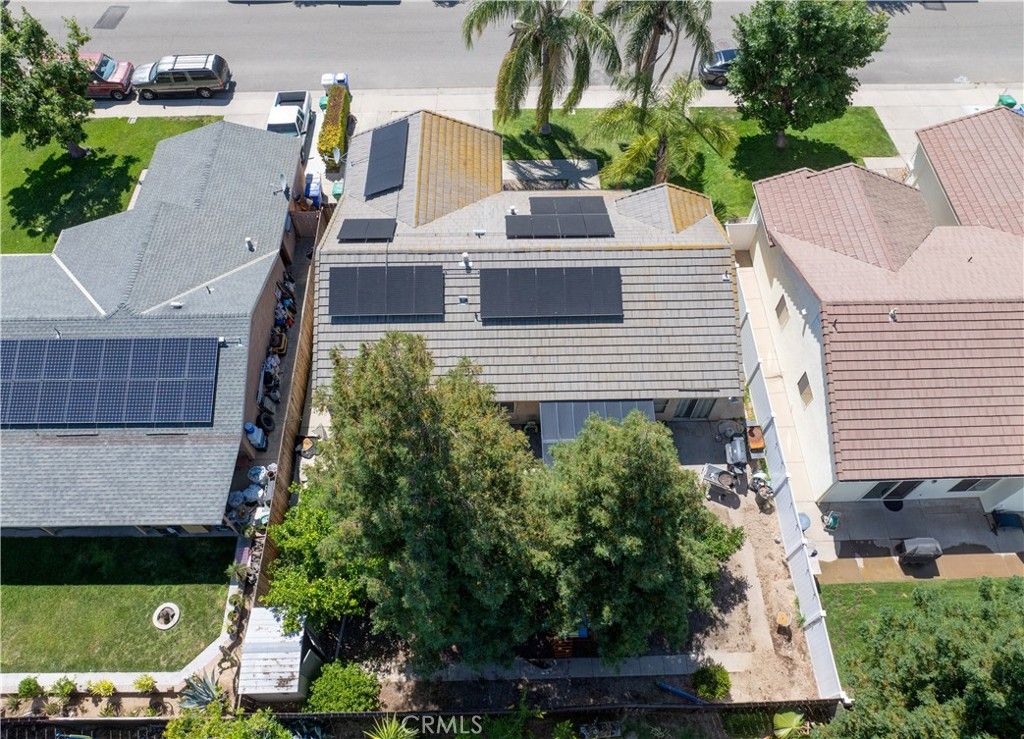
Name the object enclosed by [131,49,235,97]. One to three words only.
car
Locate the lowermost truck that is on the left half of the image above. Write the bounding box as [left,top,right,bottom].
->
[264,92,313,166]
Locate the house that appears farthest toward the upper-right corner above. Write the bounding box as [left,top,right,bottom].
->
[743,103,1024,510]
